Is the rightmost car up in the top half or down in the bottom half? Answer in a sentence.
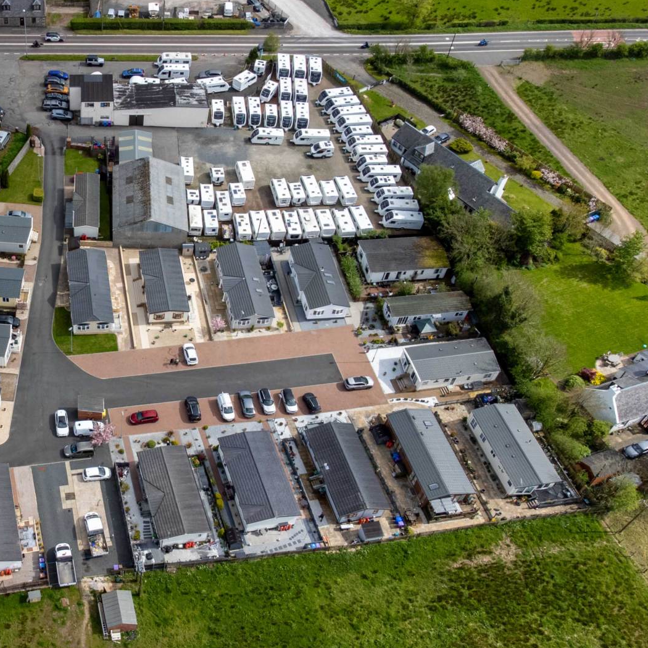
The rightmost car is in the bottom half of the image.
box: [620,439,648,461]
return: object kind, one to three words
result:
car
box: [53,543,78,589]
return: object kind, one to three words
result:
truck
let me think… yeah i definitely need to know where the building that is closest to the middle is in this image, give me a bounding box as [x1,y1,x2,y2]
[288,242,351,319]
